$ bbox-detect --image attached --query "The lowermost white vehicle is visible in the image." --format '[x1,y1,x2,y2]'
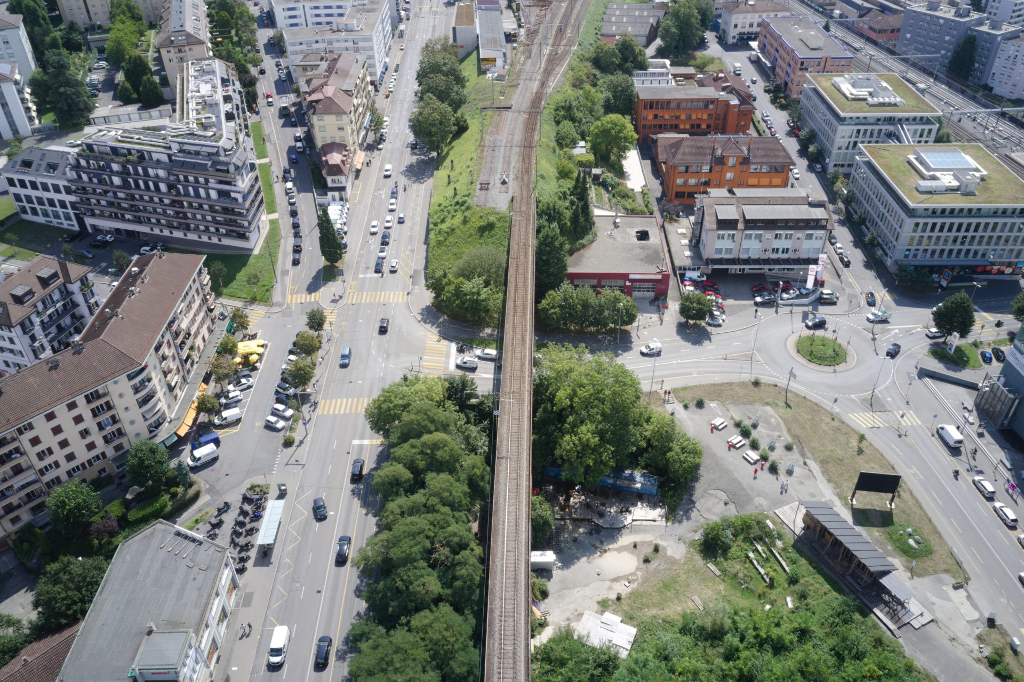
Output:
[264,620,290,667]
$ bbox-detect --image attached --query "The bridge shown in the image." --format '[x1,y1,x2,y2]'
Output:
[479,200,537,682]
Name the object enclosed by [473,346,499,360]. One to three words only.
car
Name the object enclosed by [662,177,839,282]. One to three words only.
building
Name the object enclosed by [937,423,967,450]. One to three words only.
vehicle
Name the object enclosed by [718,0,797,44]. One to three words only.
building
